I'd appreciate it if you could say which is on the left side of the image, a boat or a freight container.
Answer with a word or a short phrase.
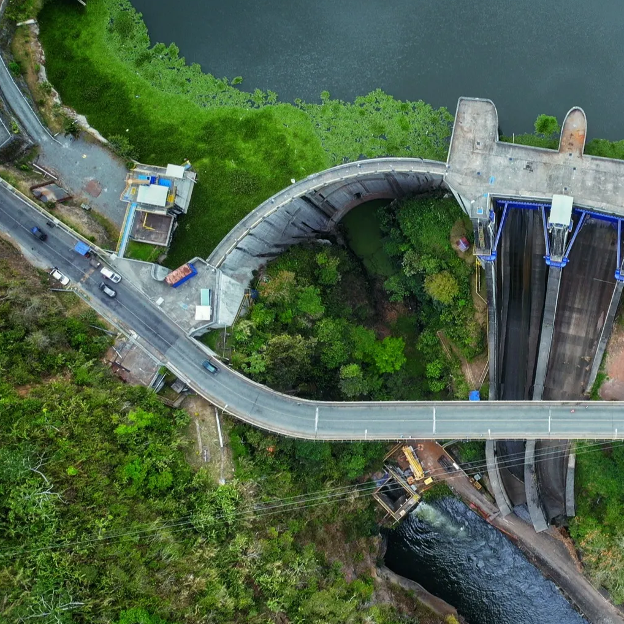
freight container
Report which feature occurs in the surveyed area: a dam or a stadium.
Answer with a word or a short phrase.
dam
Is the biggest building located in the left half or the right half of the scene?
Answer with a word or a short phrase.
left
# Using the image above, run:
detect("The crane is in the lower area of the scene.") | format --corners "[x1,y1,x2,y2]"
[395,441,434,481]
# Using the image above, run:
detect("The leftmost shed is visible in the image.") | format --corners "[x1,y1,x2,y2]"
[29,180,78,205]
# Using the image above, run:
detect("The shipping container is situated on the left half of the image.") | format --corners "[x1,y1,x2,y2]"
[166,262,199,287]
